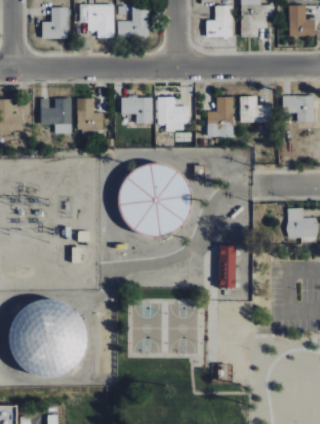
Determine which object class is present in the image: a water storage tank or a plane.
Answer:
water storage tank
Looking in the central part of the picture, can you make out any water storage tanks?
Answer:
Yes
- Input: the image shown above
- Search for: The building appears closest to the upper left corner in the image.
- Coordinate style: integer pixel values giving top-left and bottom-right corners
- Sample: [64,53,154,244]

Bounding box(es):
[42,6,68,38]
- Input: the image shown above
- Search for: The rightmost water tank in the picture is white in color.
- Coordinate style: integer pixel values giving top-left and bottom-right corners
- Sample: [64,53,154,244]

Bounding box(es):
[118,162,192,240]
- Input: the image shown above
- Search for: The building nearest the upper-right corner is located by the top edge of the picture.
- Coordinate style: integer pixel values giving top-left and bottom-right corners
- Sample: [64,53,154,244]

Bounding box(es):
[288,4,314,36]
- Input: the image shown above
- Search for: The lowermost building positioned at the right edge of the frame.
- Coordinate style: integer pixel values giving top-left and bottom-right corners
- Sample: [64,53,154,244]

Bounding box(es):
[287,208,318,242]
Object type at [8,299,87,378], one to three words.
water tank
